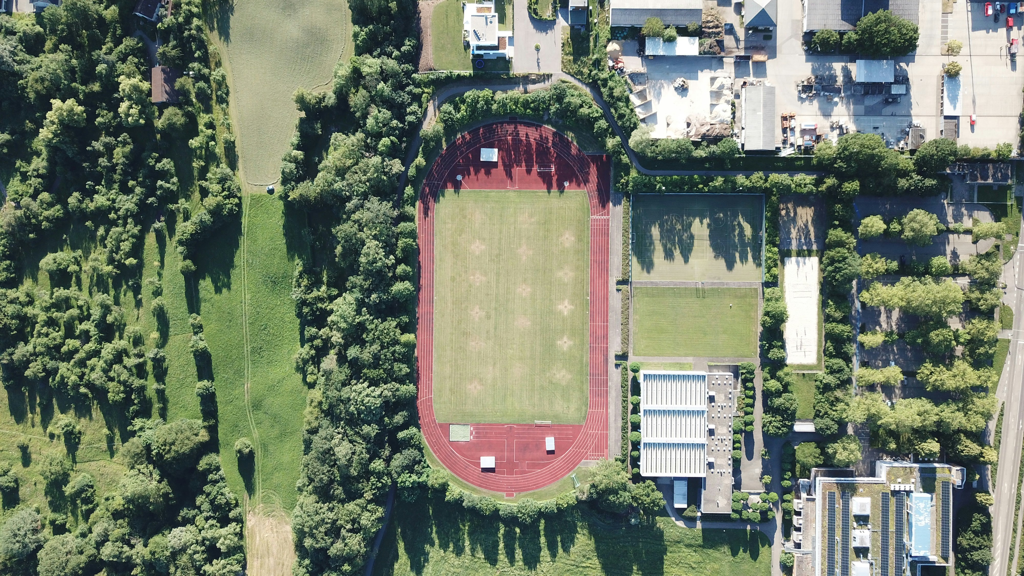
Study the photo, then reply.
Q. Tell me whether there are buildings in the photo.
Yes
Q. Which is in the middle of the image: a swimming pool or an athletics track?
athletics track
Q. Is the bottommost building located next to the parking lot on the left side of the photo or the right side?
right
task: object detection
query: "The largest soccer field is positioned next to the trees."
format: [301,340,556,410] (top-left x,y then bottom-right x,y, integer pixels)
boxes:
[433,189,591,424]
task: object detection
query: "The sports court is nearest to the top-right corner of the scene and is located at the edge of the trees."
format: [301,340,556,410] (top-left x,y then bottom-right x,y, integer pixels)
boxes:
[779,197,824,249]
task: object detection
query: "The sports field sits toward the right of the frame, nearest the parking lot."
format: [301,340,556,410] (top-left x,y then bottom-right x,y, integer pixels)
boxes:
[633,287,758,357]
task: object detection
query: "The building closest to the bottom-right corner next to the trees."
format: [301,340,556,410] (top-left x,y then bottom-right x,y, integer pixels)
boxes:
[785,452,966,576]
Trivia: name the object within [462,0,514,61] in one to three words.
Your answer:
house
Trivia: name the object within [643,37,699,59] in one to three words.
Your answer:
shed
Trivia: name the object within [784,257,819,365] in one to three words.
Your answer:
sports court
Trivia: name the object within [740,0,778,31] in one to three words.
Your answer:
building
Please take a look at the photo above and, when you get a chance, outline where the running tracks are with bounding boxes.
[416,119,611,498]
